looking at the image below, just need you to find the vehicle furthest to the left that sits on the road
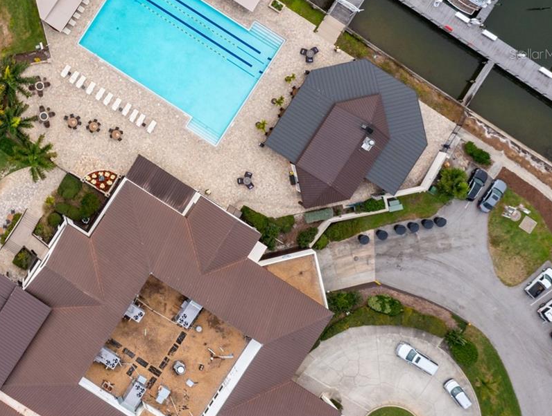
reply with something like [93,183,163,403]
[391,340,439,375]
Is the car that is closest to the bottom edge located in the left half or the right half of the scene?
right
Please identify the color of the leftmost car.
white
